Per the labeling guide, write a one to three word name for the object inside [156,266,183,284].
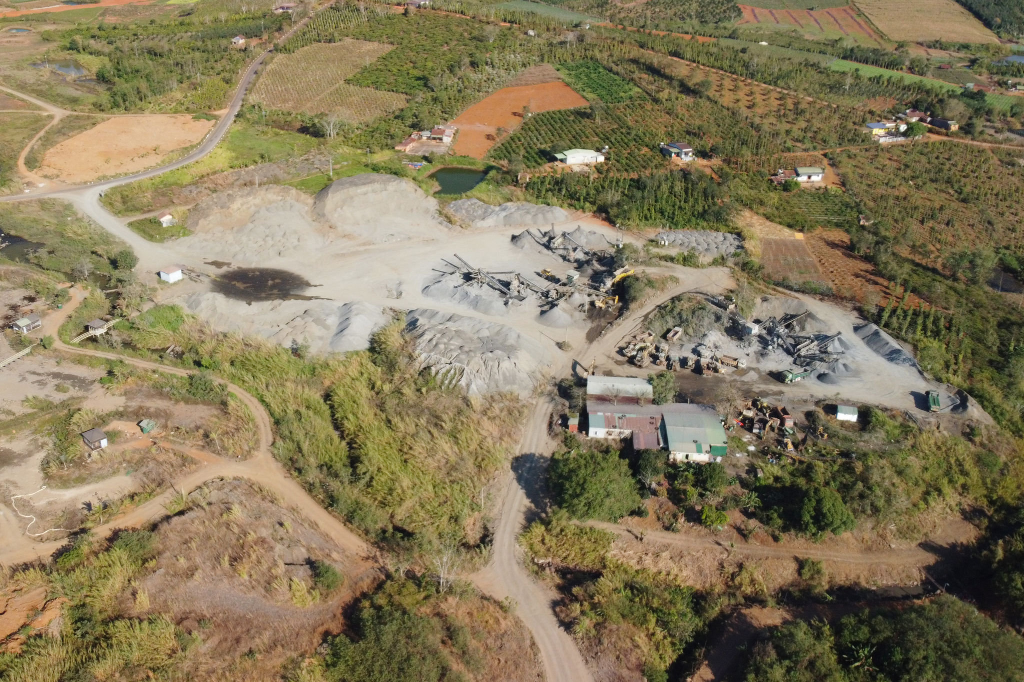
shed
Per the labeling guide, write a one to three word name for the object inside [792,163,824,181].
house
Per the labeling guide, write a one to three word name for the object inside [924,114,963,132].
barn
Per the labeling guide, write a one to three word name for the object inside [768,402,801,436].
truck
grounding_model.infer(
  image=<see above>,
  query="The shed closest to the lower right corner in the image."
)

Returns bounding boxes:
[833,398,861,419]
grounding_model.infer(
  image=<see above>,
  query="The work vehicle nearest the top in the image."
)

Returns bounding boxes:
[533,265,559,281]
